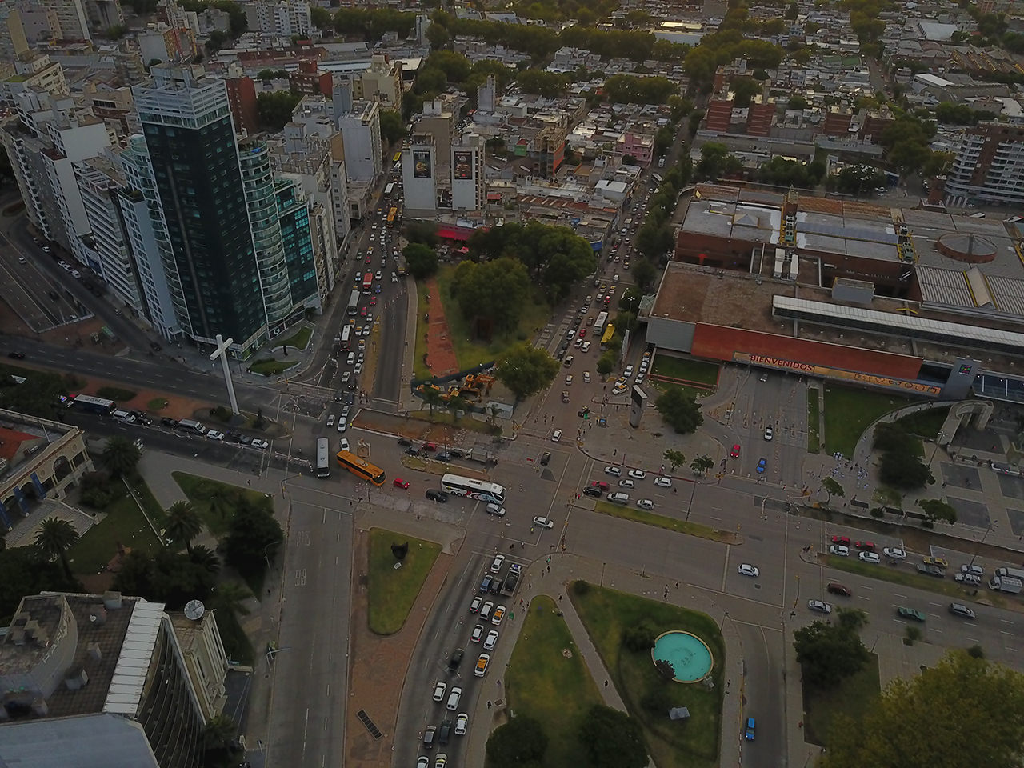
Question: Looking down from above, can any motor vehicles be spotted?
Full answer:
Yes, you can see a motor vehicle in this photo.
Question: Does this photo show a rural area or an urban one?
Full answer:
The area is urban.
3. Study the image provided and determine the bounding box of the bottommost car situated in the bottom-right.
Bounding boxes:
[744,712,759,742]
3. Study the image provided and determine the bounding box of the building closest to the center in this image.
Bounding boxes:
[487,400,513,425]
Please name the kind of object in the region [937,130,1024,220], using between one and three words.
building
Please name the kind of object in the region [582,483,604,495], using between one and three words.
vehicle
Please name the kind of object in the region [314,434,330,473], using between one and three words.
vehicle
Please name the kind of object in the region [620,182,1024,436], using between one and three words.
building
